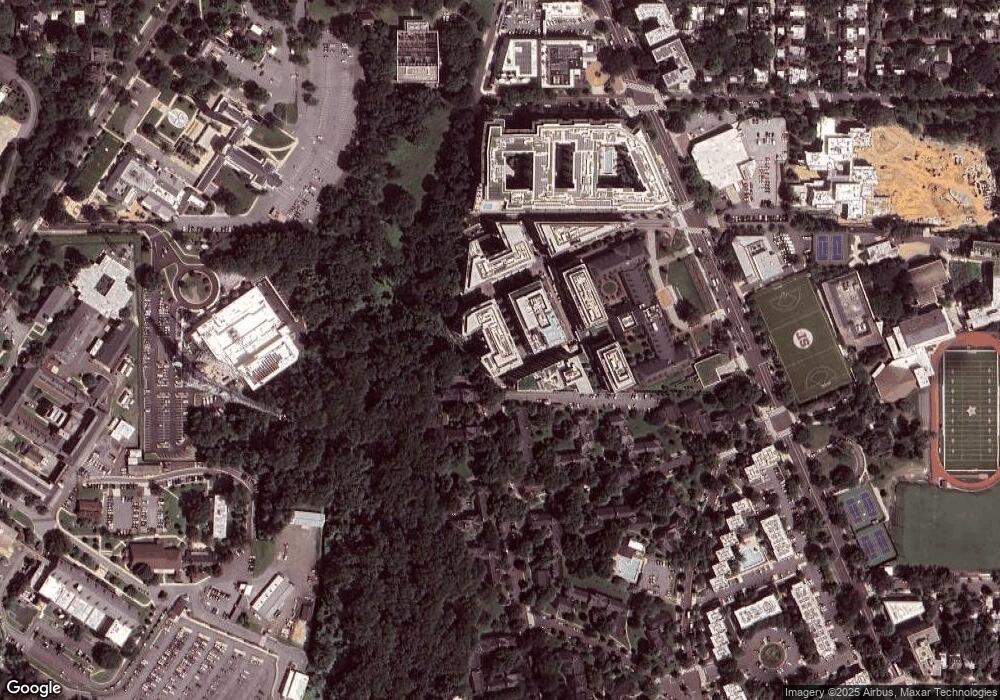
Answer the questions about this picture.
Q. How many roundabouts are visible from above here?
two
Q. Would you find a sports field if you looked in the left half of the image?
No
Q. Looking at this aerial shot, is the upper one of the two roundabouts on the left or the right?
left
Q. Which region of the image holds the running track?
right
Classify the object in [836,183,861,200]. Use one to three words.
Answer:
building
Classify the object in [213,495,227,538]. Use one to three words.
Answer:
shed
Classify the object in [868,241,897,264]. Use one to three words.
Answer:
building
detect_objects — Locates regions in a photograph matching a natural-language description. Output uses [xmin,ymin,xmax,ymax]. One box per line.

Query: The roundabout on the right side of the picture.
[744,626,802,684]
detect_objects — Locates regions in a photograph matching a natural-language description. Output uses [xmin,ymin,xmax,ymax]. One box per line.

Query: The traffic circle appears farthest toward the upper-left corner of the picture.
[170,262,221,312]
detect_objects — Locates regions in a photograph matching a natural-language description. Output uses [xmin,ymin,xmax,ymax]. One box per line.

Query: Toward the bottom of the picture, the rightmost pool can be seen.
[738,538,770,574]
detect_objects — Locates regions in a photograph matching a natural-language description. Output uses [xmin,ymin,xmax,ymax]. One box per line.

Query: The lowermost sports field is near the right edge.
[938,349,1000,480]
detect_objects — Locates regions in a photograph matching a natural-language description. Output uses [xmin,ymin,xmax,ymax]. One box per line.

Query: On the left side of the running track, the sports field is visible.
[756,277,852,403]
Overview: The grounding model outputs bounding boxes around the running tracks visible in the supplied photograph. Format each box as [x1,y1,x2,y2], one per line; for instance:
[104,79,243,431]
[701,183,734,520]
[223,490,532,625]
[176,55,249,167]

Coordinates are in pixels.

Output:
[931,331,1000,488]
